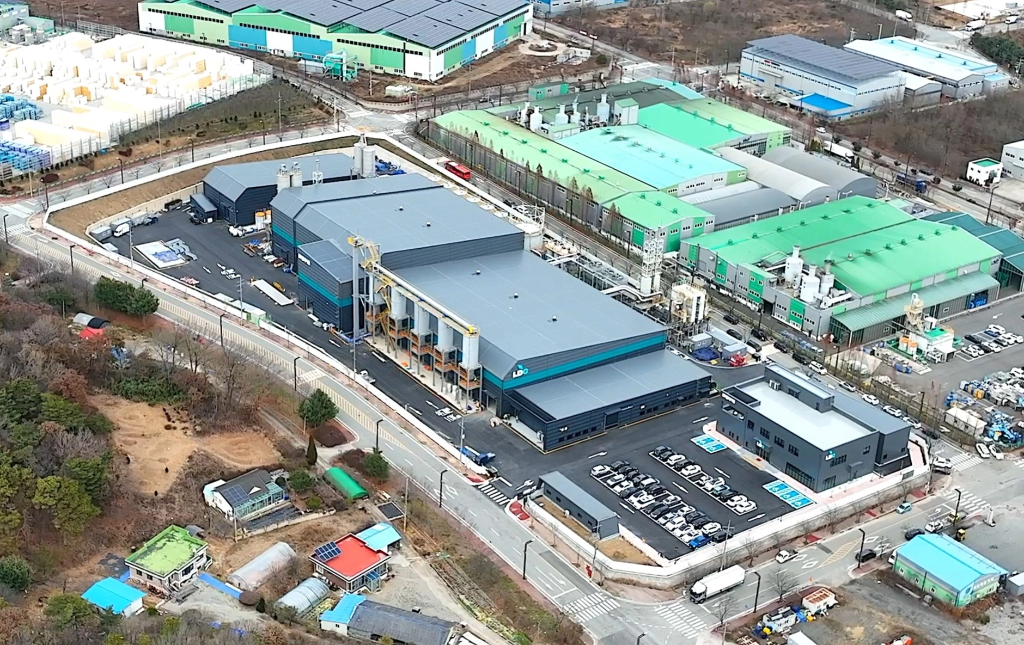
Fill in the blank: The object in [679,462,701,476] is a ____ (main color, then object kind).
white car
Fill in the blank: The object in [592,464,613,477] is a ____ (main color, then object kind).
white vehicle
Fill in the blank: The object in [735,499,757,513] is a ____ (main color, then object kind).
white car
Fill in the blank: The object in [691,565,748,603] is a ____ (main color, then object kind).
white truck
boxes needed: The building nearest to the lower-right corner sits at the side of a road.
[894,536,1002,613]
